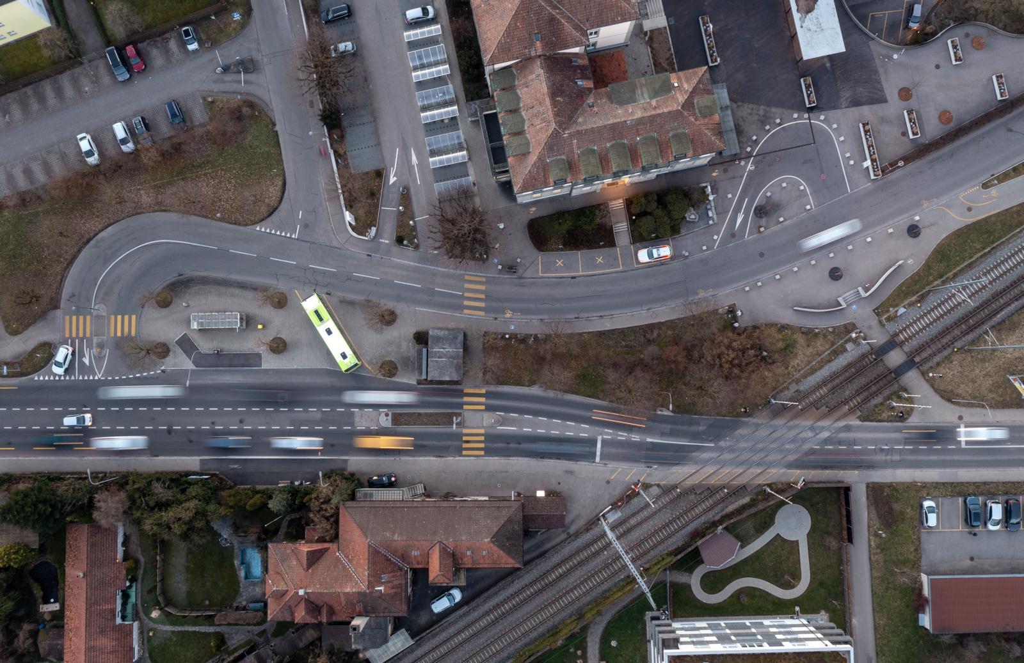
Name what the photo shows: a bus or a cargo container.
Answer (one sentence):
There is a bus in the scene.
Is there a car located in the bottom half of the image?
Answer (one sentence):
Yes, a car is visible in the bottom half of the image.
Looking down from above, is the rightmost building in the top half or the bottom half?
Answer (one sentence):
It is in the bottom half that the rightmost building appears.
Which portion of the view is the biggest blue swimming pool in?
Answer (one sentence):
Look in the bottom left portion of the view to spot the biggest blue swimming pool.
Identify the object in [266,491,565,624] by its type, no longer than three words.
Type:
building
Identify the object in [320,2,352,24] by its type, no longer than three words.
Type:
car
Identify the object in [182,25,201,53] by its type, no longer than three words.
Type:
car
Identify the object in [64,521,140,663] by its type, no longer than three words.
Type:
house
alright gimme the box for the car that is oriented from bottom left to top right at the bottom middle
[430,586,462,614]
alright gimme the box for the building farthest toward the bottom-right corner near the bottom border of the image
[915,570,1024,634]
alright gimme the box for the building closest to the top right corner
[781,0,845,72]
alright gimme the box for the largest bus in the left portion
[303,288,361,374]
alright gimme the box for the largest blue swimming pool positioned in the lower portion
[239,549,261,581]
